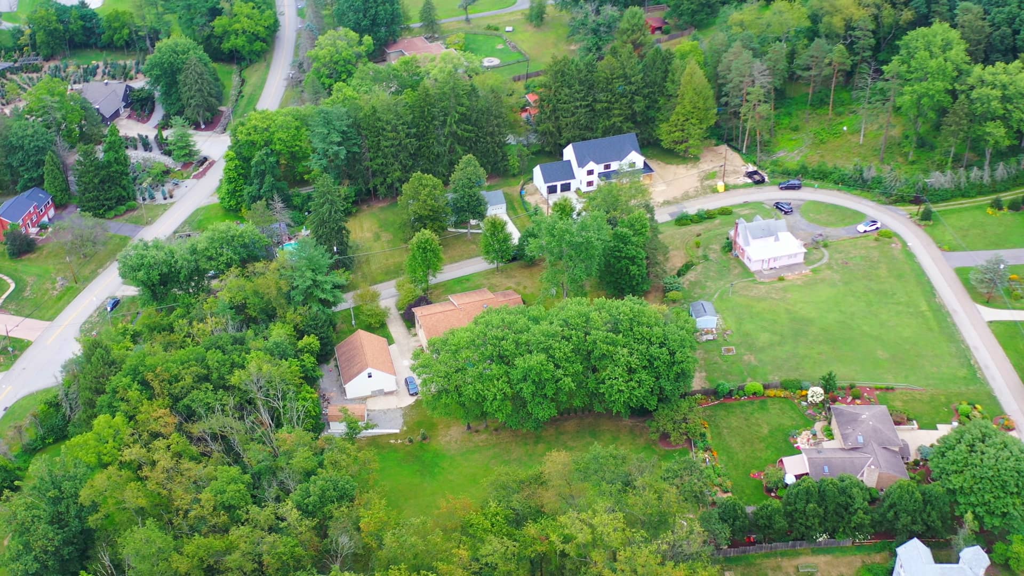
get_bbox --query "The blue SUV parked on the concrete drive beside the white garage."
[403,373,420,398]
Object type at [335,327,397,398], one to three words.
building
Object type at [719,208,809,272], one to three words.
house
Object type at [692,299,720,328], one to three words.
shed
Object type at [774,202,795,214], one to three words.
vehicle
